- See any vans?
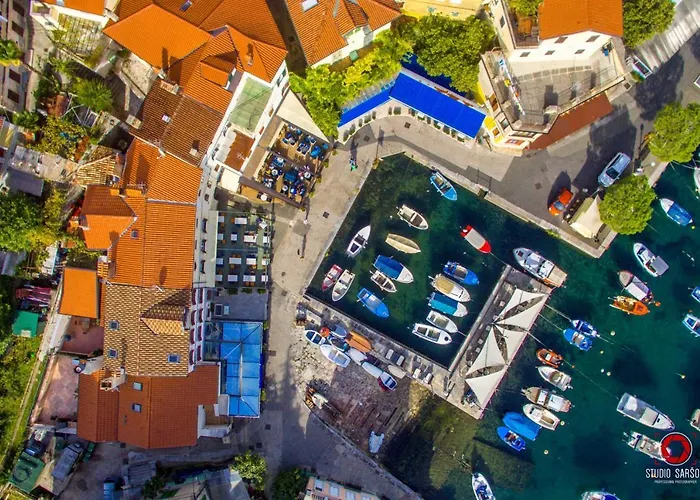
Yes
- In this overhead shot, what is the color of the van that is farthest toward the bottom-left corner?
blue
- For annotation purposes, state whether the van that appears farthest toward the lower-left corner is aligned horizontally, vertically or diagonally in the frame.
diagonally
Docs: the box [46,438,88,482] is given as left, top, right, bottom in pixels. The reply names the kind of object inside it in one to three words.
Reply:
van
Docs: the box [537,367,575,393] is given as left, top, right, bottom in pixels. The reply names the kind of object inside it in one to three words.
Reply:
boat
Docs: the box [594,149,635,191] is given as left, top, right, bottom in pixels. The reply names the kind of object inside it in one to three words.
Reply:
car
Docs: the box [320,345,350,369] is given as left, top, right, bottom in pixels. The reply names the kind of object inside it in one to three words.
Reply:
boat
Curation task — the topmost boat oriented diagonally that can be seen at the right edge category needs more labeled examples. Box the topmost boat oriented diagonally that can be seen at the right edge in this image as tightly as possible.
[660,198,697,227]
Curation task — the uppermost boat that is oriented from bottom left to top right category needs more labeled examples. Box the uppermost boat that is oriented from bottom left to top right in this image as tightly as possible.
[344,226,371,259]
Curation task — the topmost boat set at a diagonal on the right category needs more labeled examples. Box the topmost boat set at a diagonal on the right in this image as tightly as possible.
[429,170,458,200]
